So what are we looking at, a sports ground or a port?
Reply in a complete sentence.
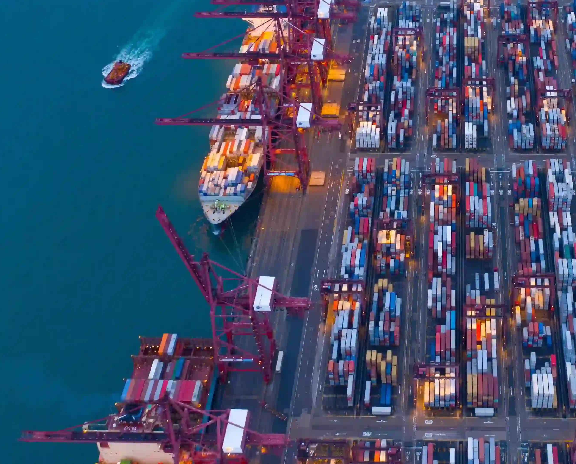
It's a port.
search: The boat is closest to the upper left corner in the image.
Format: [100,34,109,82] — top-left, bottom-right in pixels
[104,58,133,84]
